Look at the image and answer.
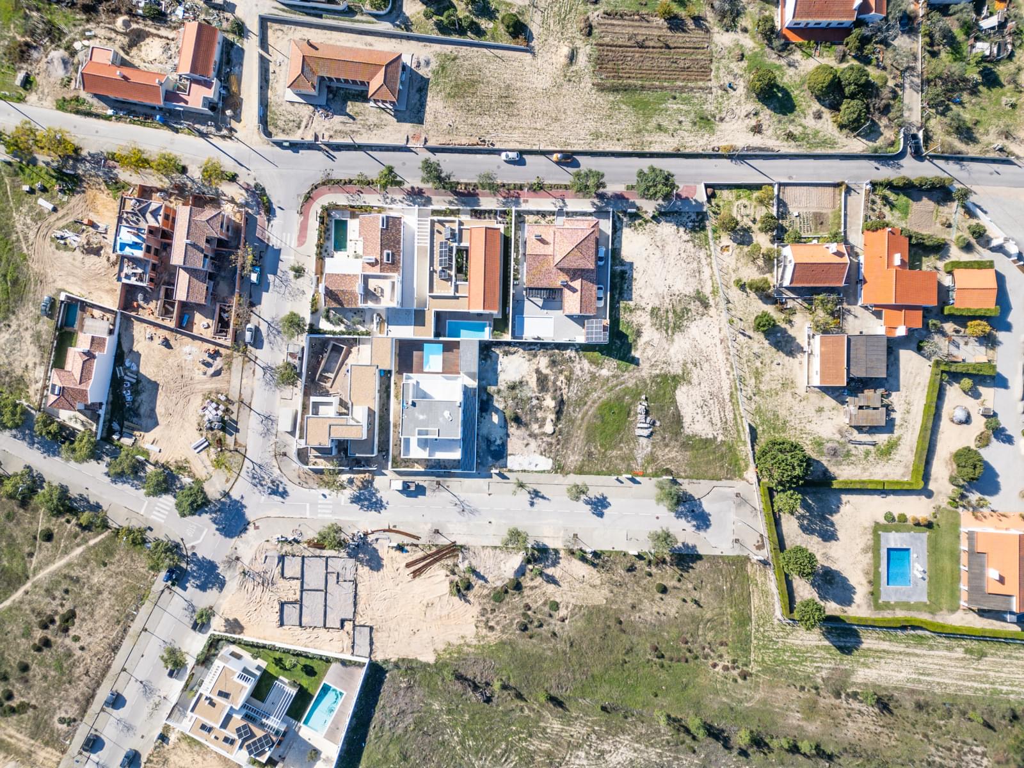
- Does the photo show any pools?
Yes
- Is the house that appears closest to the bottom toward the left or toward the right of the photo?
left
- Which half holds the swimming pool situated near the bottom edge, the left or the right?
left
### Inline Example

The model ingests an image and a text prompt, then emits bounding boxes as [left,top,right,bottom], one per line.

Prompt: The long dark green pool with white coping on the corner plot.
[331,218,350,254]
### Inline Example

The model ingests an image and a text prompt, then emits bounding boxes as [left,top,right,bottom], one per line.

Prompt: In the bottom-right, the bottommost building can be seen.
[953,526,1024,621]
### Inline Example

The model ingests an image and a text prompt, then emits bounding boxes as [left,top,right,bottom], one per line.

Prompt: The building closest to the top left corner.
[84,21,225,116]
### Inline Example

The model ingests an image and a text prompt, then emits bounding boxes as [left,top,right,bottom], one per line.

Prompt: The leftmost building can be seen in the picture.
[47,317,128,411]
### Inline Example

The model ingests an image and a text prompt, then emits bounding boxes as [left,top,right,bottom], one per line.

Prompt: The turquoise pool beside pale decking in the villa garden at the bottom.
[299,680,349,739]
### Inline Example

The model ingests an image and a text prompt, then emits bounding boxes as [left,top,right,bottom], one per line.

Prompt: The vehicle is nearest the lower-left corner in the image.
[81,733,96,753]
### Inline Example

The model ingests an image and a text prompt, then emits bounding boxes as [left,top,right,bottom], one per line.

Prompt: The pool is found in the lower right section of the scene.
[886,547,911,588]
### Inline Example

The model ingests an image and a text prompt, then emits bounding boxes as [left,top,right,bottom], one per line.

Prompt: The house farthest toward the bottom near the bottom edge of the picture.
[174,642,300,763]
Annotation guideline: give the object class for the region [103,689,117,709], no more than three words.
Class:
car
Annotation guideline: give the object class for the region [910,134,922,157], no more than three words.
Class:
vehicle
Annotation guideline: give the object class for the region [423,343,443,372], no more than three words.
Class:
swimming pool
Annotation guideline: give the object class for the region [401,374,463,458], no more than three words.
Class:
house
